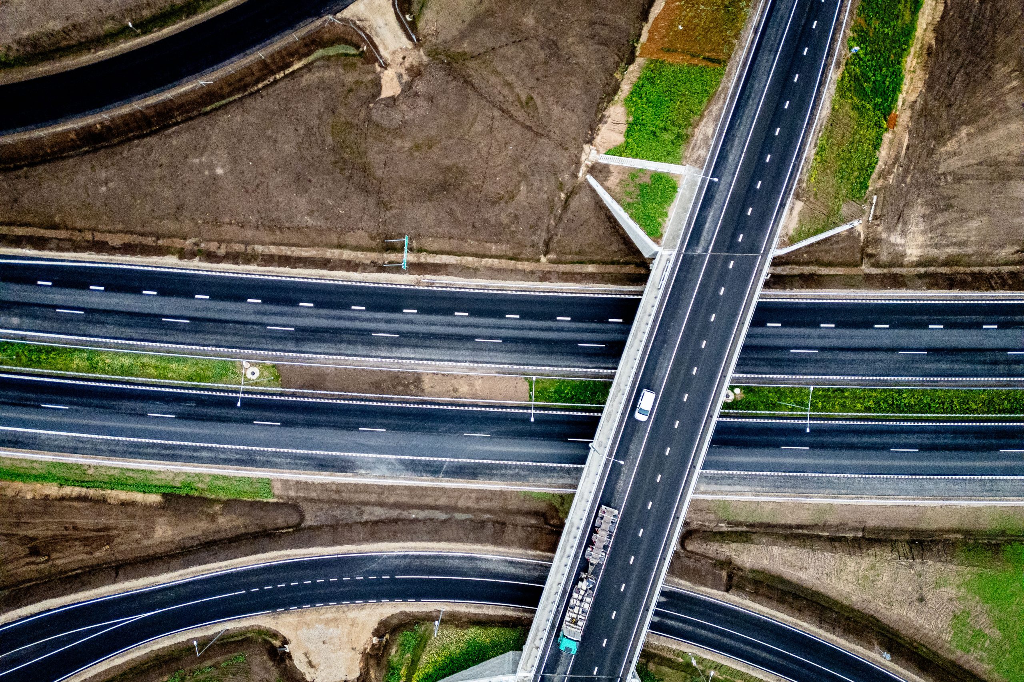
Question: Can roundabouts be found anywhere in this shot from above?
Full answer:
No, I can't see a single roundabout in this photo.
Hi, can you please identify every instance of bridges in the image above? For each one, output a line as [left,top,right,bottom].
[517,246,777,682]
